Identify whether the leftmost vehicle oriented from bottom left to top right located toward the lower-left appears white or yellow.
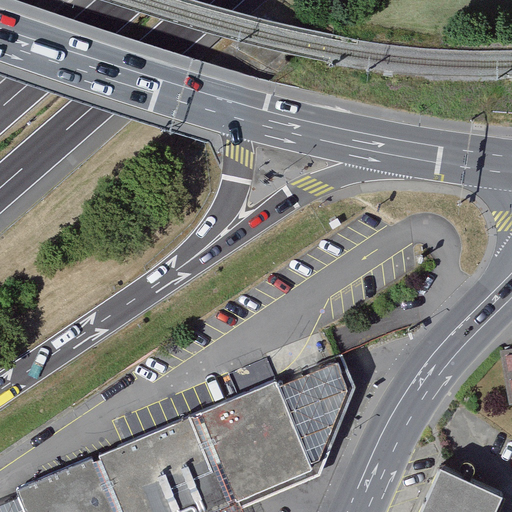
yellow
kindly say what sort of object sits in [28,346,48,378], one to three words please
vehicle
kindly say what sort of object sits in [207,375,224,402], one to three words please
vehicle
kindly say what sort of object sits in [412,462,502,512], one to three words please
building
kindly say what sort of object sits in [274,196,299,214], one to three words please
car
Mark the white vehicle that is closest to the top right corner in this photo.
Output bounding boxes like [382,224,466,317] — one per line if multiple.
[276,101,298,114]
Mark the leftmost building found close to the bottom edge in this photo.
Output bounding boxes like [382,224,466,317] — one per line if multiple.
[0,352,354,512]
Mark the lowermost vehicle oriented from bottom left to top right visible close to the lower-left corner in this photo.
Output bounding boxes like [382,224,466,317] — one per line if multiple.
[30,427,56,446]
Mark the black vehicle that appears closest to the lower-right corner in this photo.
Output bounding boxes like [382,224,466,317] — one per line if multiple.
[492,432,506,454]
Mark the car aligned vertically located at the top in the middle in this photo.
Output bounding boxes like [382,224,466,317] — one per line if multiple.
[229,120,242,146]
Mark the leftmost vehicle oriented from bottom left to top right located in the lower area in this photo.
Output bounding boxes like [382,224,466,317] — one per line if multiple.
[0,385,22,407]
